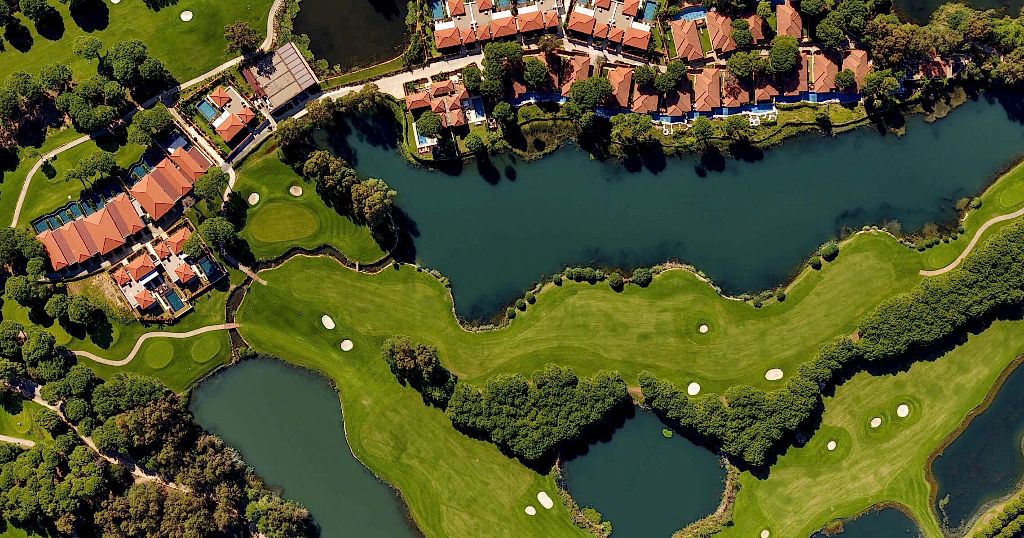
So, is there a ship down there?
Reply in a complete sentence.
No, the photo shows no ship.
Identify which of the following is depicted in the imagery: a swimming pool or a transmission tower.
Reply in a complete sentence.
The one in the frame is a swimming pool.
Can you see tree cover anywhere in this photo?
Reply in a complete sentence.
Yes, tree cover can be seen from above here.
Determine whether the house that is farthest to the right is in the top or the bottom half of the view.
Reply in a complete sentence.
It is in the top half that the house that is farthest to the right appears.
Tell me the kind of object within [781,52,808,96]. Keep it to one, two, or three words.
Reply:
house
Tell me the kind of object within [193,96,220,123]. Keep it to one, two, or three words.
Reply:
swimming pool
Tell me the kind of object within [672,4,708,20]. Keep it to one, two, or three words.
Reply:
swimming pool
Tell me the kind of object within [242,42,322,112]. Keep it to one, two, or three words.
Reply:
building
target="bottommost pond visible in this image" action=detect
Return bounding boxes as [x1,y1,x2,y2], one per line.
[811,505,924,538]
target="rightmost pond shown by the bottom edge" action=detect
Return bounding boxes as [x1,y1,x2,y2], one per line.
[932,364,1024,533]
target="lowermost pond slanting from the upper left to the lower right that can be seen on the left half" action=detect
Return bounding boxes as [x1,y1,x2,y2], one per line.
[191,357,426,538]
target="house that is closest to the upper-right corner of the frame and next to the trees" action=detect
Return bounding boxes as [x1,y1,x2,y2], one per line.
[904,60,953,81]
